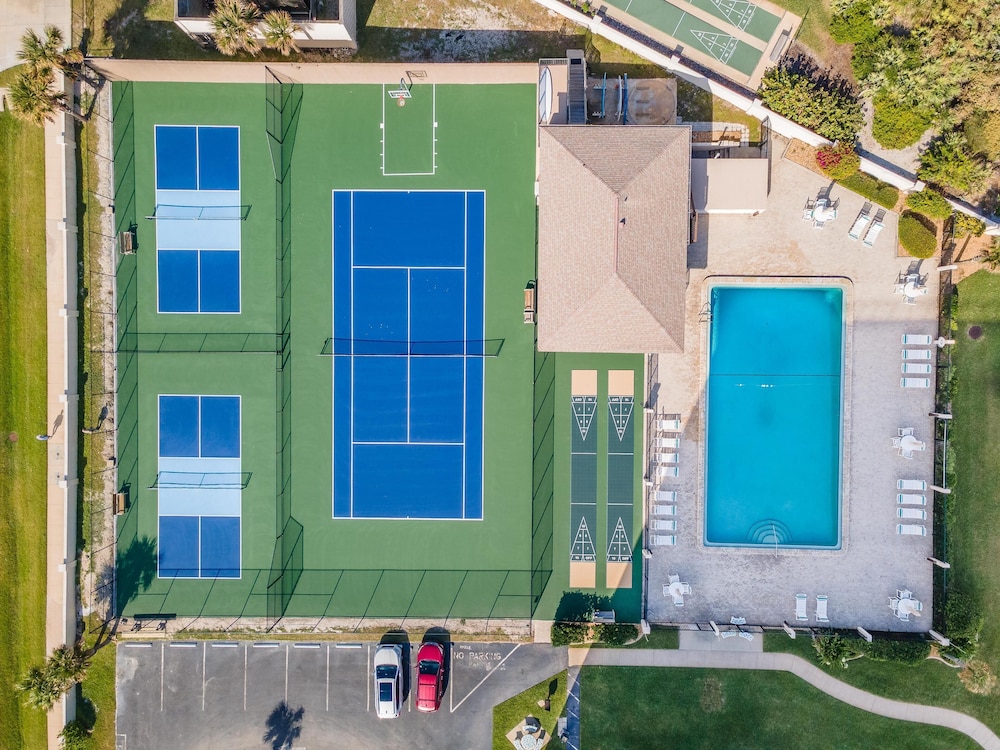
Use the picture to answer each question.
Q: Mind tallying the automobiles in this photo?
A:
2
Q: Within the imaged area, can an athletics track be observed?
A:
No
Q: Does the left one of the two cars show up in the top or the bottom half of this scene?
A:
bottom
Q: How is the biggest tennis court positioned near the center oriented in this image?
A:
up and down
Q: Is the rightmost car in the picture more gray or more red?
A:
red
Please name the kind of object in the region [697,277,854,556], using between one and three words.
swimming pool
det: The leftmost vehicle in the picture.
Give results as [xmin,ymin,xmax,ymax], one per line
[371,644,405,718]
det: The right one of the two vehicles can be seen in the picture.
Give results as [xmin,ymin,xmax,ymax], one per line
[414,641,447,712]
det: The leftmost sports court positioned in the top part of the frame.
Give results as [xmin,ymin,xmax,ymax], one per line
[154,125,241,313]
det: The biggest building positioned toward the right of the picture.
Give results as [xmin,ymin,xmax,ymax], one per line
[536,123,689,354]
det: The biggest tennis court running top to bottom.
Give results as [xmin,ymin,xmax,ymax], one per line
[332,189,485,521]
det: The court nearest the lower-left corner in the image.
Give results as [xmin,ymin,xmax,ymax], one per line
[157,395,241,579]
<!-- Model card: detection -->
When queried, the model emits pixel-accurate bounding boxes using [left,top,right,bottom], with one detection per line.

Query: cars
[371,644,405,718]
[414,641,447,712]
